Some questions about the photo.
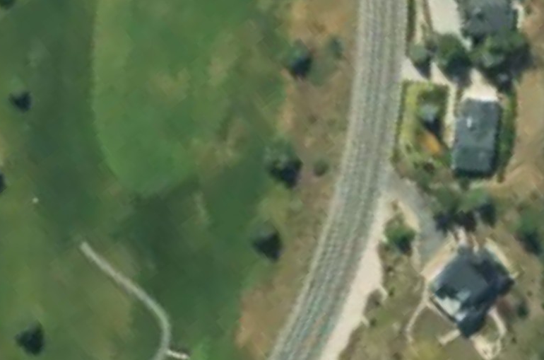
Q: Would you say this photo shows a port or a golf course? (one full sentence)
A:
It's a golf course.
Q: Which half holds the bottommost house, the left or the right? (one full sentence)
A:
It is on the right.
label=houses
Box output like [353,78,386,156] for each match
[460,0,526,40]
[455,97,505,178]
[431,240,522,339]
